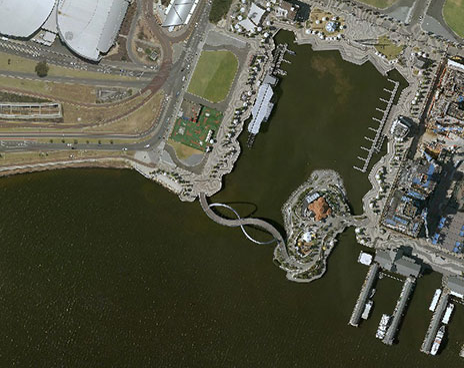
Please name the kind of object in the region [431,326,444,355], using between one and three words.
vessel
